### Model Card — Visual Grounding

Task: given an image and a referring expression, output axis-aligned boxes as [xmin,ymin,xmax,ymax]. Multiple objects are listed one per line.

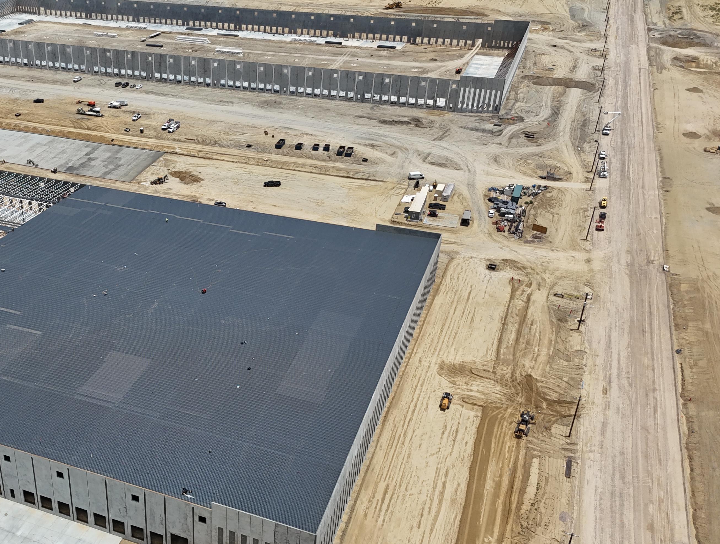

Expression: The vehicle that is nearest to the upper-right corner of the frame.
[603,111,621,132]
